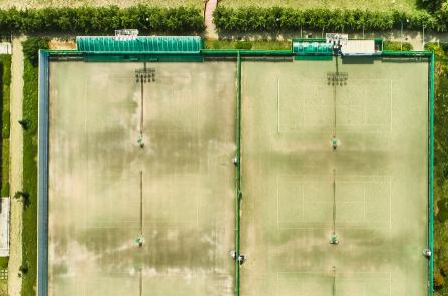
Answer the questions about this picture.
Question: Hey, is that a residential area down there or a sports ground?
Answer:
sports ground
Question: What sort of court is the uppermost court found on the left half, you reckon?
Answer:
tennis court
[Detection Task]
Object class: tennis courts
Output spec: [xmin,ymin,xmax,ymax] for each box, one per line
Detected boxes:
[240,250,429,296]
[49,154,240,250]
[240,55,429,154]
[49,250,240,296]
[49,55,240,154]
[240,154,429,250]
